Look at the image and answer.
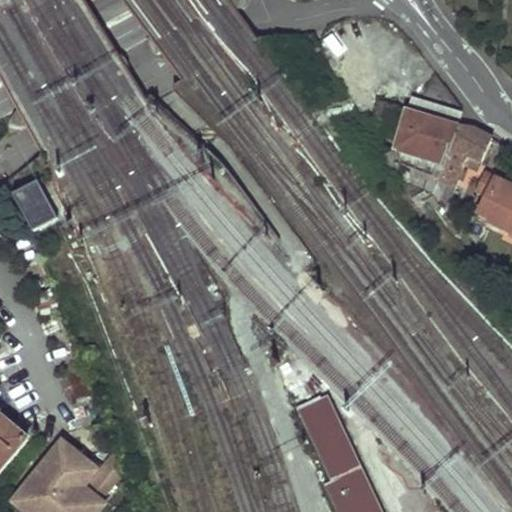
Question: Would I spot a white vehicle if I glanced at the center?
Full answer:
No, no white vehicle can be made out at the center.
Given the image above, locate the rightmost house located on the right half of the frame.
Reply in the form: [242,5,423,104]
[468,168,512,250]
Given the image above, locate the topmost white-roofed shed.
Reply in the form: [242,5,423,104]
[322,32,348,60]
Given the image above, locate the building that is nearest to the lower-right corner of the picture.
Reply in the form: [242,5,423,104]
[296,394,382,512]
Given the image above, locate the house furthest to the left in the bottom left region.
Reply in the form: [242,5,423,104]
[0,410,30,480]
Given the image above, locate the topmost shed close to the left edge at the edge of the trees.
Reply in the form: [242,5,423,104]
[11,178,60,230]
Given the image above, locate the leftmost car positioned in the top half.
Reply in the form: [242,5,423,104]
[349,20,364,39]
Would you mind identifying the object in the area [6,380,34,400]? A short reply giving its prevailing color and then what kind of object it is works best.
white vehicle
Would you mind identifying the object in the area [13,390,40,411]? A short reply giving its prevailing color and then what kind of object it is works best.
white vehicle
